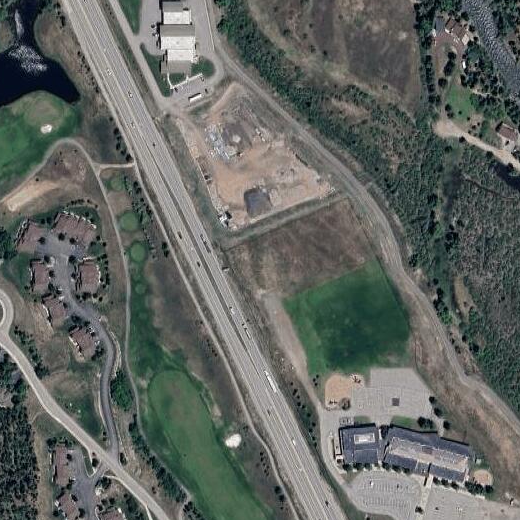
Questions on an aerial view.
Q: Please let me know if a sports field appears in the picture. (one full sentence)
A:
Yes, I can see a sports field in this picture.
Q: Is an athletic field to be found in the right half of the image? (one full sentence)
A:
Yes, an athletic field appears in the right half of the image.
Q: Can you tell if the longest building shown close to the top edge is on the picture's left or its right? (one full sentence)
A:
The longest building shown close to the top edge is on the left side of the image.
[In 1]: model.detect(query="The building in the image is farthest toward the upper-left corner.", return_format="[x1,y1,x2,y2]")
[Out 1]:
[160,1,195,72]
